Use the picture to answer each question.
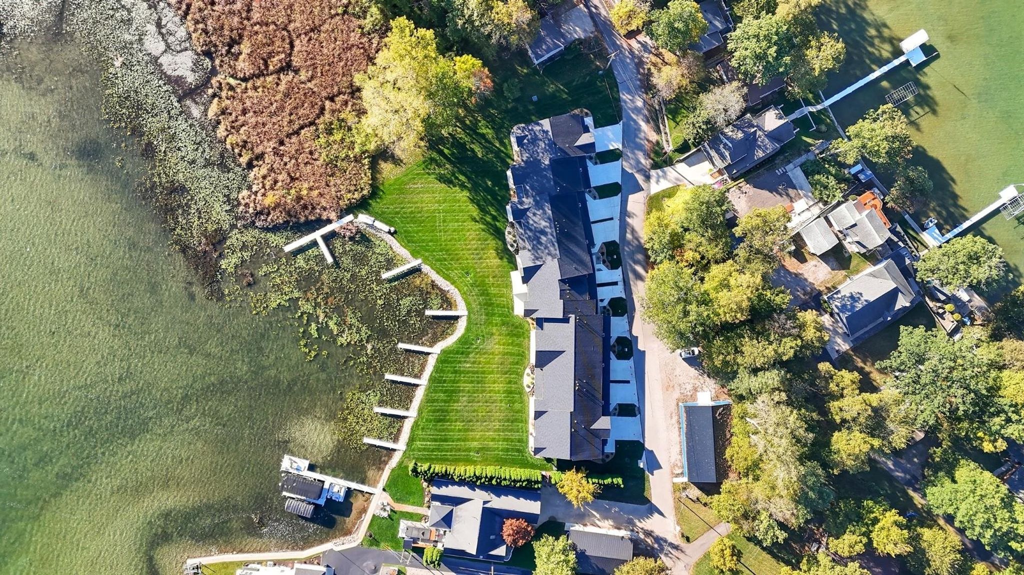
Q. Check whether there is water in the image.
Yes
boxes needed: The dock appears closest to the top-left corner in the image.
[284,214,355,264]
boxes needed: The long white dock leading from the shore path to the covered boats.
[286,469,381,508]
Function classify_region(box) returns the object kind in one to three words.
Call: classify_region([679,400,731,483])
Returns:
shed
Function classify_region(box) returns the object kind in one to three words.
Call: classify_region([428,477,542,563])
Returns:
house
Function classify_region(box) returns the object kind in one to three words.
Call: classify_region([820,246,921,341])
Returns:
house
